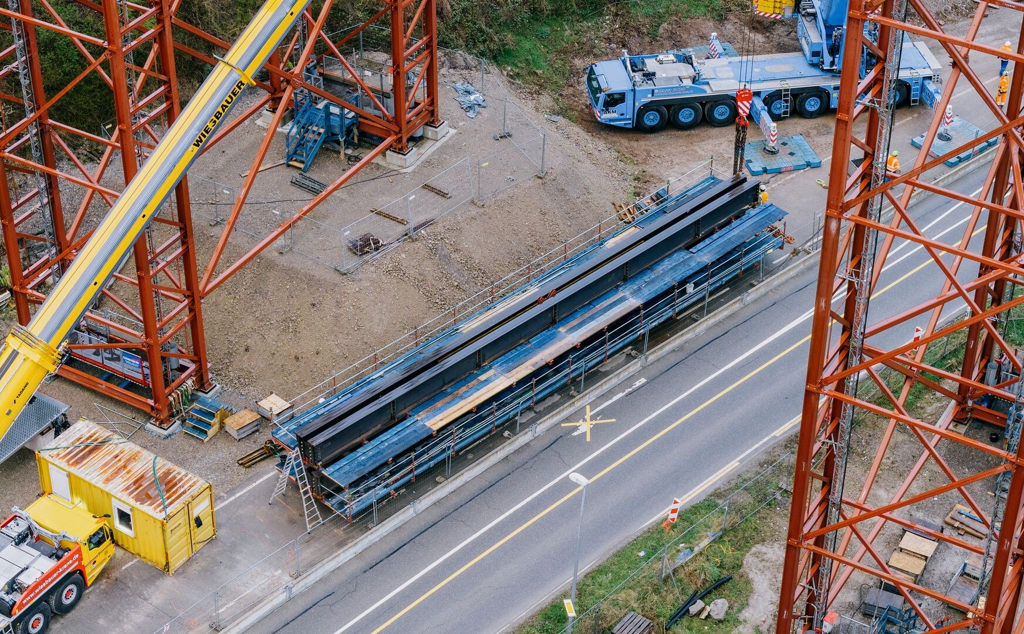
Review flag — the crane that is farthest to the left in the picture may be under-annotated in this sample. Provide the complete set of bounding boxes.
[0,0,310,634]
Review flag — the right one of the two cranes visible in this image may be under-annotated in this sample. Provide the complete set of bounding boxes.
[576,0,953,155]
